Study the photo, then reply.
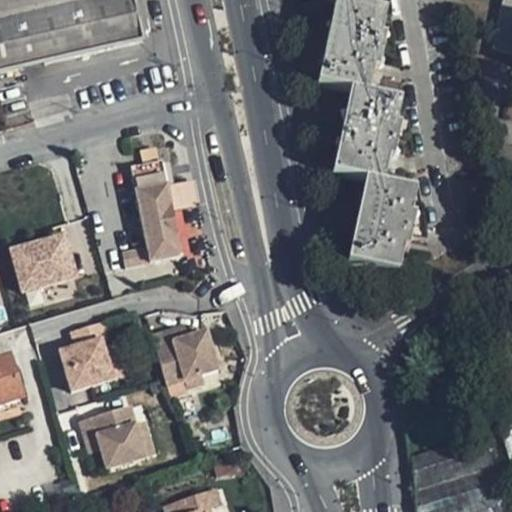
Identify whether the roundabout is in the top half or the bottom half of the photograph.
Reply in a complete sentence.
Seen from above, the roundabout lies in the bottom half of the view.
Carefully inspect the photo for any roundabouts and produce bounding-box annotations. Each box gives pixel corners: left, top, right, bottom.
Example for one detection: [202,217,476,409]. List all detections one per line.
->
[284,366,366,449]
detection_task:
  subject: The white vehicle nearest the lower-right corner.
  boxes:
[352,368,372,394]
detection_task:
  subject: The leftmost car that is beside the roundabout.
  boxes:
[289,452,306,476]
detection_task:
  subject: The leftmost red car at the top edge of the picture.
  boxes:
[194,4,206,25]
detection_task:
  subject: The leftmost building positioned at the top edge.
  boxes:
[0,0,142,72]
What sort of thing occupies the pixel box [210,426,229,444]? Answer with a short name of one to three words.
swimming pool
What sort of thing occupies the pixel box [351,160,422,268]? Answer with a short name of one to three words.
building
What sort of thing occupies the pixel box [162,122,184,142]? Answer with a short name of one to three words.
car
